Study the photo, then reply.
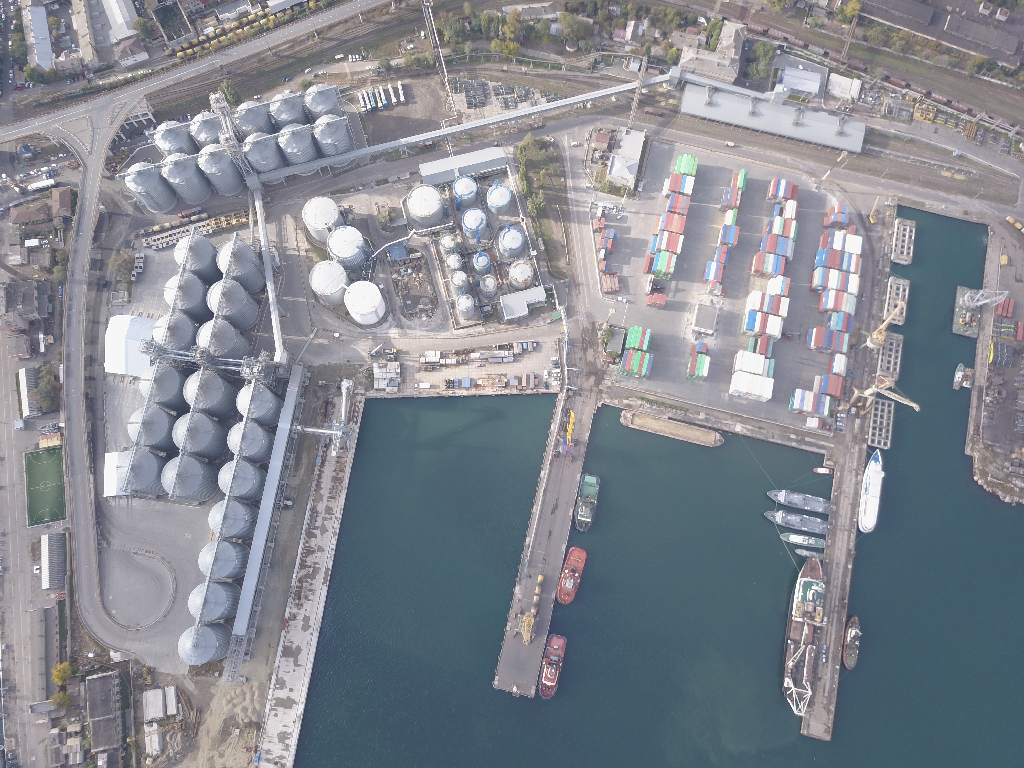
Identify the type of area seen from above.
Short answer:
port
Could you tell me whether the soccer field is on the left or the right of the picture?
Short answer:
left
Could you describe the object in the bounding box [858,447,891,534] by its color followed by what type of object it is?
white ship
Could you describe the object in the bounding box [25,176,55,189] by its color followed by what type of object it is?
white vehicle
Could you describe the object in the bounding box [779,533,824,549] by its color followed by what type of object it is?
white boat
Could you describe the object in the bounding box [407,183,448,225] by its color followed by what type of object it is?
white storage tank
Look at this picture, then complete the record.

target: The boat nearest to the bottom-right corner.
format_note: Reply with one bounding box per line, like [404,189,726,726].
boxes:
[842,616,862,670]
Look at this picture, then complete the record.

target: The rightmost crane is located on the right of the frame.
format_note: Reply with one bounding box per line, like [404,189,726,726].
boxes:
[950,285,1009,339]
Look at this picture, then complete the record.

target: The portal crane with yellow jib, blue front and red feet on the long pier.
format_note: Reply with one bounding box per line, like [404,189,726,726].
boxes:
[553,410,580,464]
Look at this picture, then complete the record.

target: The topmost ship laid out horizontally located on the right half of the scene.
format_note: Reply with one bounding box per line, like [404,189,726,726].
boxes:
[620,408,725,449]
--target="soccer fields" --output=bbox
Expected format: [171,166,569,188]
[17,447,67,528]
